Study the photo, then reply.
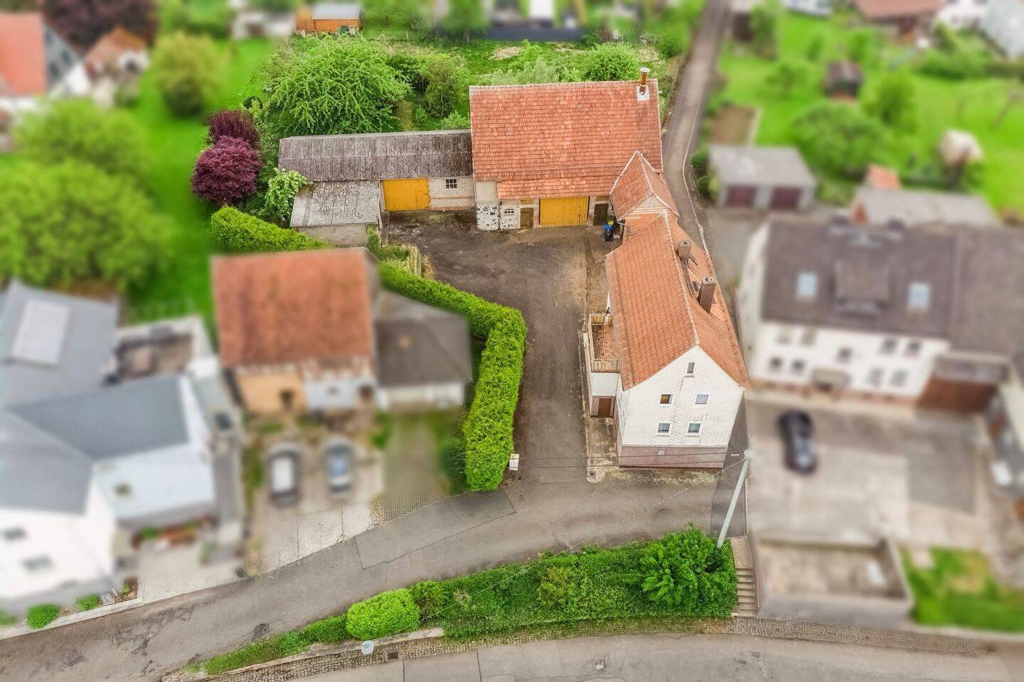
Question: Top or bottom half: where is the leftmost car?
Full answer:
It is in the bottom half that the leftmost car appears.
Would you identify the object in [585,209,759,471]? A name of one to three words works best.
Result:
house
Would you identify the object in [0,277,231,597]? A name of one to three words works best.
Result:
house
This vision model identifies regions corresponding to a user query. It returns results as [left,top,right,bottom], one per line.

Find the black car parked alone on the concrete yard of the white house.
[778,413,819,475]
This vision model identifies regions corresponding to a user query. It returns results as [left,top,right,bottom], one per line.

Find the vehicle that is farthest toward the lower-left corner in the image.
[266,447,302,513]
